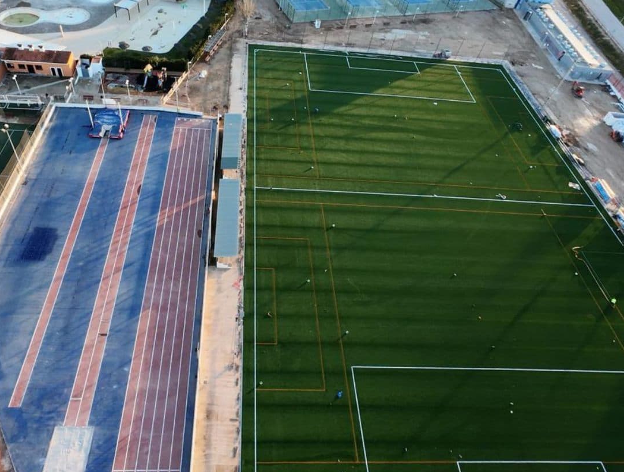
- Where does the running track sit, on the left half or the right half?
left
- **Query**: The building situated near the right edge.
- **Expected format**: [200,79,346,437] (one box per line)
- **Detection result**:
[516,0,618,81]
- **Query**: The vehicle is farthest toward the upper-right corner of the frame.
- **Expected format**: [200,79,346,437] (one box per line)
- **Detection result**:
[566,83,588,97]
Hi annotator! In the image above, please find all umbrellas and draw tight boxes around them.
[140,43,152,54]
[117,40,130,50]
